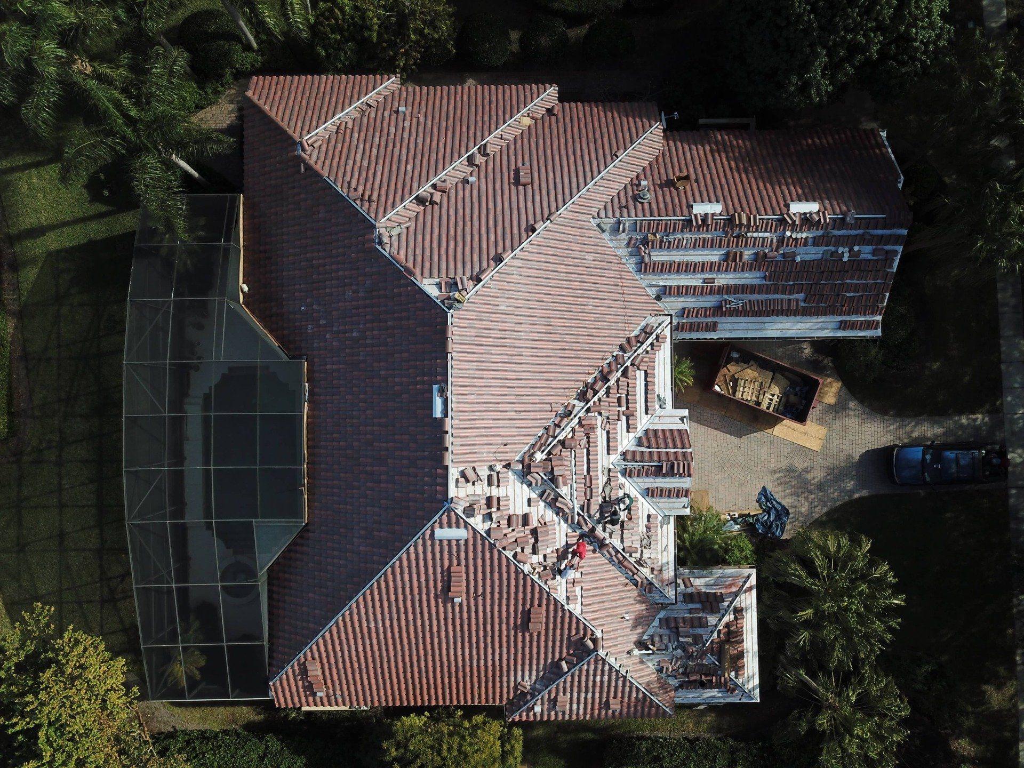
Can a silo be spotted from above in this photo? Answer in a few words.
No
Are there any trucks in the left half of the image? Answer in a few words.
No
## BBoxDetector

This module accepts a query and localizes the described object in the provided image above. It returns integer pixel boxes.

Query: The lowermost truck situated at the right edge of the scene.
[884,439,1010,490]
